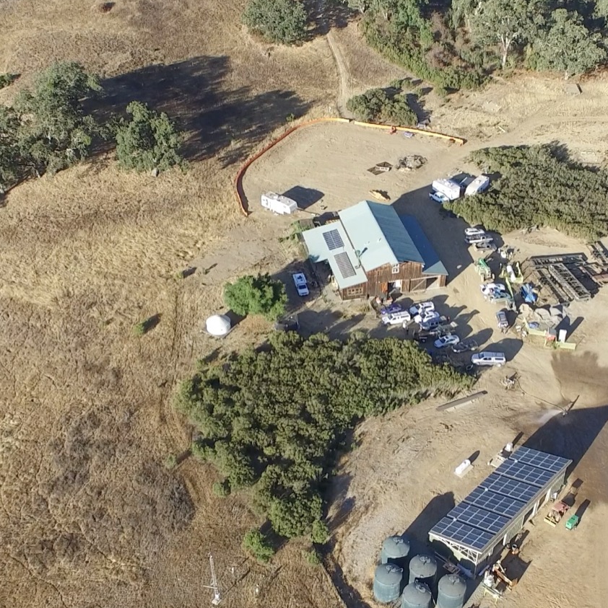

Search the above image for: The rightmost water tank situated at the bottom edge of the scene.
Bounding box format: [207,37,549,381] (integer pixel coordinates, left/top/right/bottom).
[438,571,468,608]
